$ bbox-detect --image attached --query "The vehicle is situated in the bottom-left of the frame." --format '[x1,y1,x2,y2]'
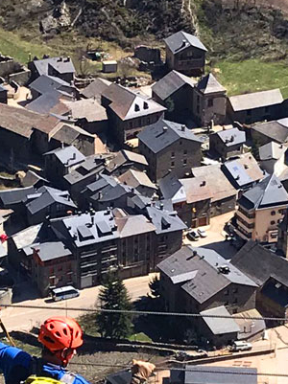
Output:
[51,285,78,301]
